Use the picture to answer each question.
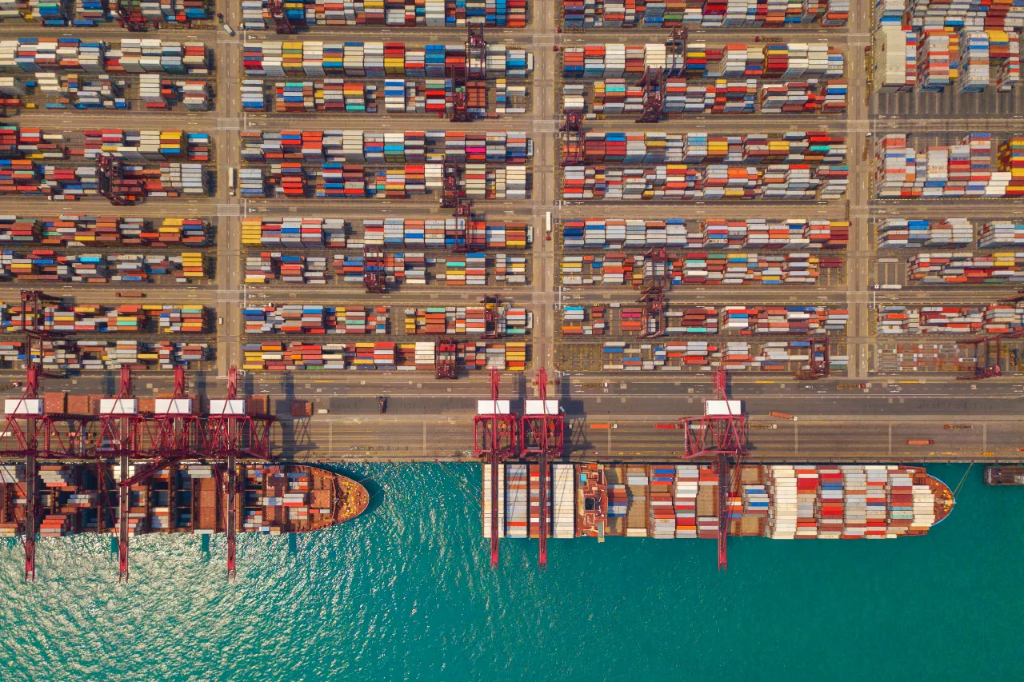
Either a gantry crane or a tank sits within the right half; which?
gantry crane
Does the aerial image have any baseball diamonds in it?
No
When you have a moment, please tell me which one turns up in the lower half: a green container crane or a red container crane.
red container crane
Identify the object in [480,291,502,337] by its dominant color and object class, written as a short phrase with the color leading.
red container crane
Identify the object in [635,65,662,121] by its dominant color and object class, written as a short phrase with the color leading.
red container crane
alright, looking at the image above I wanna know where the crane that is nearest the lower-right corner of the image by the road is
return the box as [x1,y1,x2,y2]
[958,335,1001,380]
